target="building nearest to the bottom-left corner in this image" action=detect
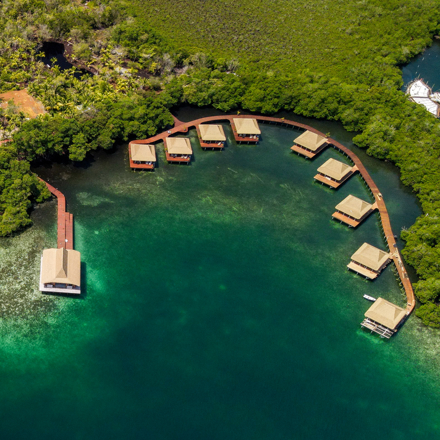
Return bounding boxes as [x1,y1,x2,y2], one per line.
[36,249,80,297]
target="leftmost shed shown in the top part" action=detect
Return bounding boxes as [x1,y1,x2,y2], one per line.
[124,147,156,172]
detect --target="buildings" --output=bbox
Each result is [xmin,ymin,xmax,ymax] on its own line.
[355,298,407,342]
[288,133,327,160]
[329,197,373,229]
[192,126,226,151]
[124,147,156,172]
[312,160,353,191]
[227,120,261,144]
[160,139,192,165]
[36,249,80,297]
[344,243,390,281]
